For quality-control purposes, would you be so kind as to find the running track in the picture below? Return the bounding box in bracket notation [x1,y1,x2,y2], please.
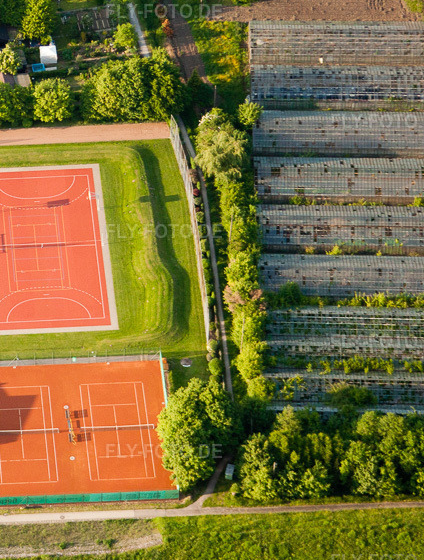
[0,122,172,144]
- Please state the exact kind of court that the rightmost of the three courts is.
tennis court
